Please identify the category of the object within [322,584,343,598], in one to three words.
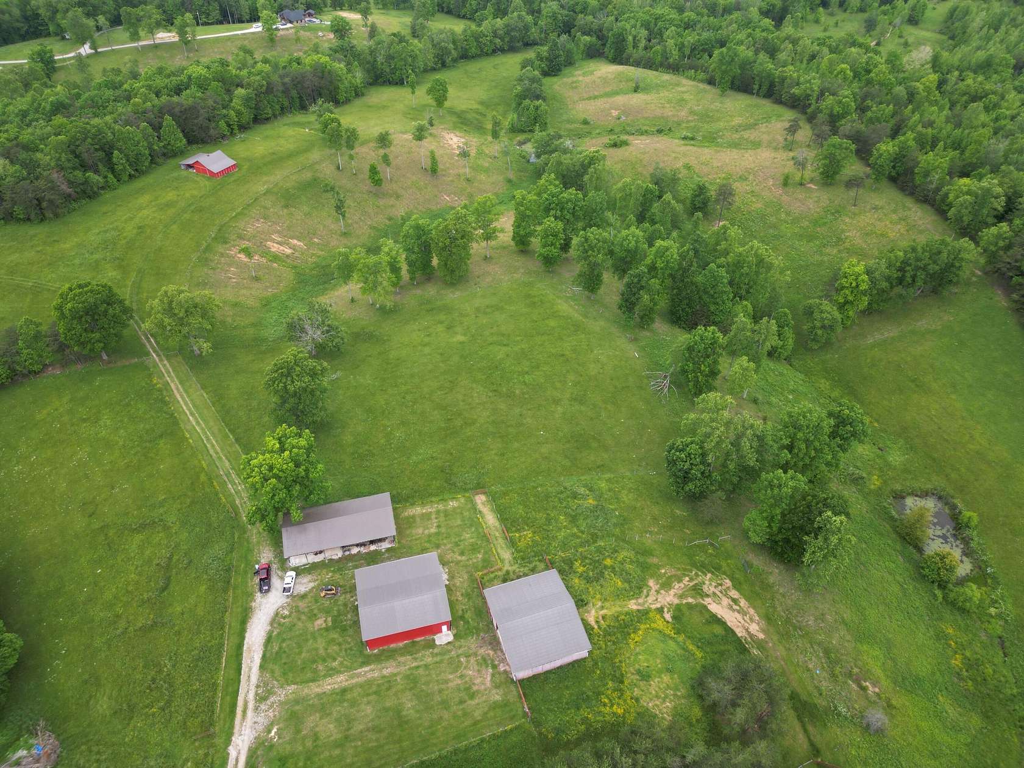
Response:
work vehicle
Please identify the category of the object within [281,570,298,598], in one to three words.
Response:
vehicle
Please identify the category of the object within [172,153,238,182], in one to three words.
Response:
barn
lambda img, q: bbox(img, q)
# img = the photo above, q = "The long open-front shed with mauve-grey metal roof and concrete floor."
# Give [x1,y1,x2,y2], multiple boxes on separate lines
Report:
[281,490,396,567]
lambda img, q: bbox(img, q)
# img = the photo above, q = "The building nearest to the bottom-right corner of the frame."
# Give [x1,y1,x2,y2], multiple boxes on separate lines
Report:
[482,568,593,680]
